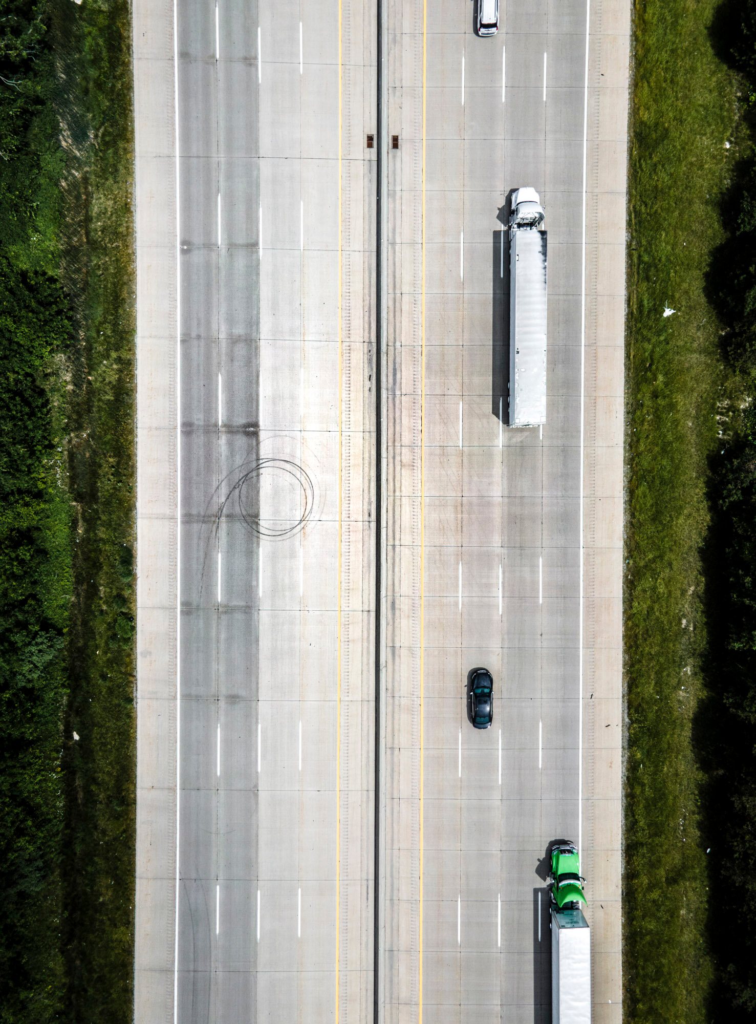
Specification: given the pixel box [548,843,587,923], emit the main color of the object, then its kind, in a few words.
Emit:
green truck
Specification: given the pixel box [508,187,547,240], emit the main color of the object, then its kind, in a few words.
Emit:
white truck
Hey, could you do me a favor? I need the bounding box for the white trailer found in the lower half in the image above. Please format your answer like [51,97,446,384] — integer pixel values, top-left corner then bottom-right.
[550,908,590,1024]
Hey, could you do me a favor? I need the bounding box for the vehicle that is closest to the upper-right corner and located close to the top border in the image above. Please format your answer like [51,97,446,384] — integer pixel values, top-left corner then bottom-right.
[476,0,499,37]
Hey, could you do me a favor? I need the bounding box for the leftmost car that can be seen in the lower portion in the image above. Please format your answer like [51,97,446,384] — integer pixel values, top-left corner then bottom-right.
[470,670,496,728]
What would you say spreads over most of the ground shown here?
paved ground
